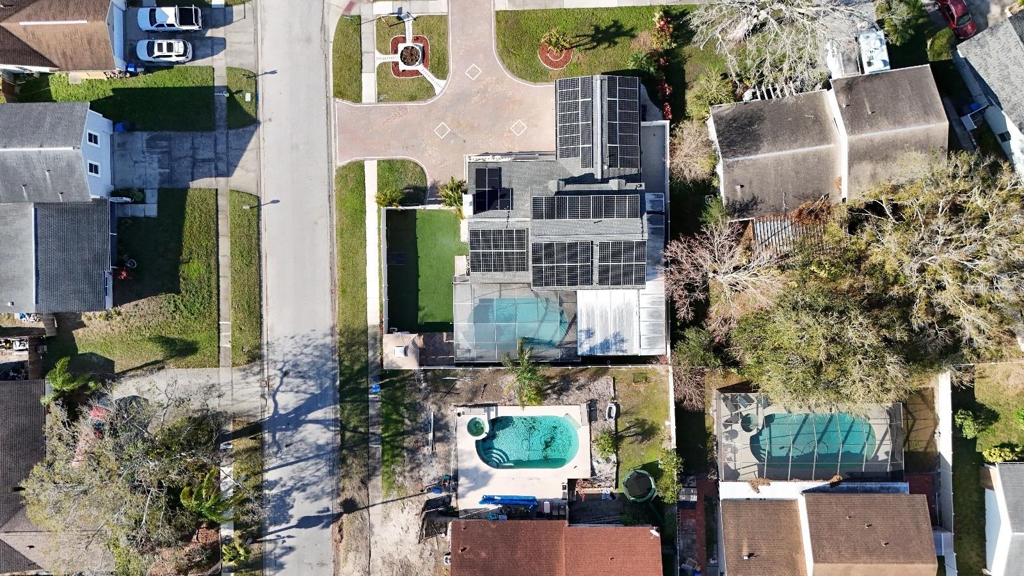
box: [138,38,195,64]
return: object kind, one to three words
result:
car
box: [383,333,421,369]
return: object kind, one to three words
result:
gazebo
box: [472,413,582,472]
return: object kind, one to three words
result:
swimming pool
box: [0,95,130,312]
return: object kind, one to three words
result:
house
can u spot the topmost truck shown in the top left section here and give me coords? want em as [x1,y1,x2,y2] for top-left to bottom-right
[138,4,206,33]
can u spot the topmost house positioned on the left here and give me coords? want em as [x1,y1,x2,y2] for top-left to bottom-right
[0,0,126,81]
